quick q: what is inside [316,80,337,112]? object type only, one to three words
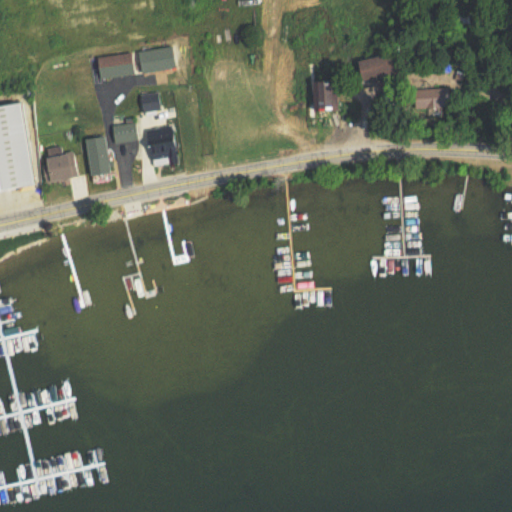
house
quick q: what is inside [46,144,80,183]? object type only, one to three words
house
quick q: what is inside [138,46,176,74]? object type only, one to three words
building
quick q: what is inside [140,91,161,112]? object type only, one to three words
shed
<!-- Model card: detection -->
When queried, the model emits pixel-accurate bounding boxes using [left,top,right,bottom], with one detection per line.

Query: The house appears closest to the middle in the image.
[140,126,179,166]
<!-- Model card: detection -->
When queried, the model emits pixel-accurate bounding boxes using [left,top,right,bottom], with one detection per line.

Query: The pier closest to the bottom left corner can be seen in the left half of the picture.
[0,318,106,500]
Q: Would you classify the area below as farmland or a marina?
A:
marina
